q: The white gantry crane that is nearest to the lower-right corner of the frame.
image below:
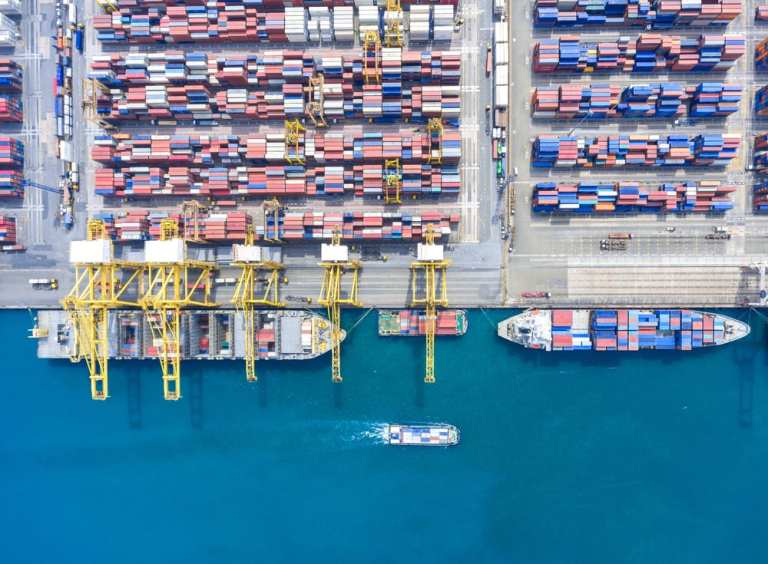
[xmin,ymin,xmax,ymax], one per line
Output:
[733,263,768,306]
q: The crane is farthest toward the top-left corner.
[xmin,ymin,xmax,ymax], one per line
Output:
[98,0,132,46]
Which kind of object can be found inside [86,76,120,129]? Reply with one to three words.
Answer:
container crane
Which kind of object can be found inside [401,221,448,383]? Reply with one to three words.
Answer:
container crane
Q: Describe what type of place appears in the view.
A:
port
